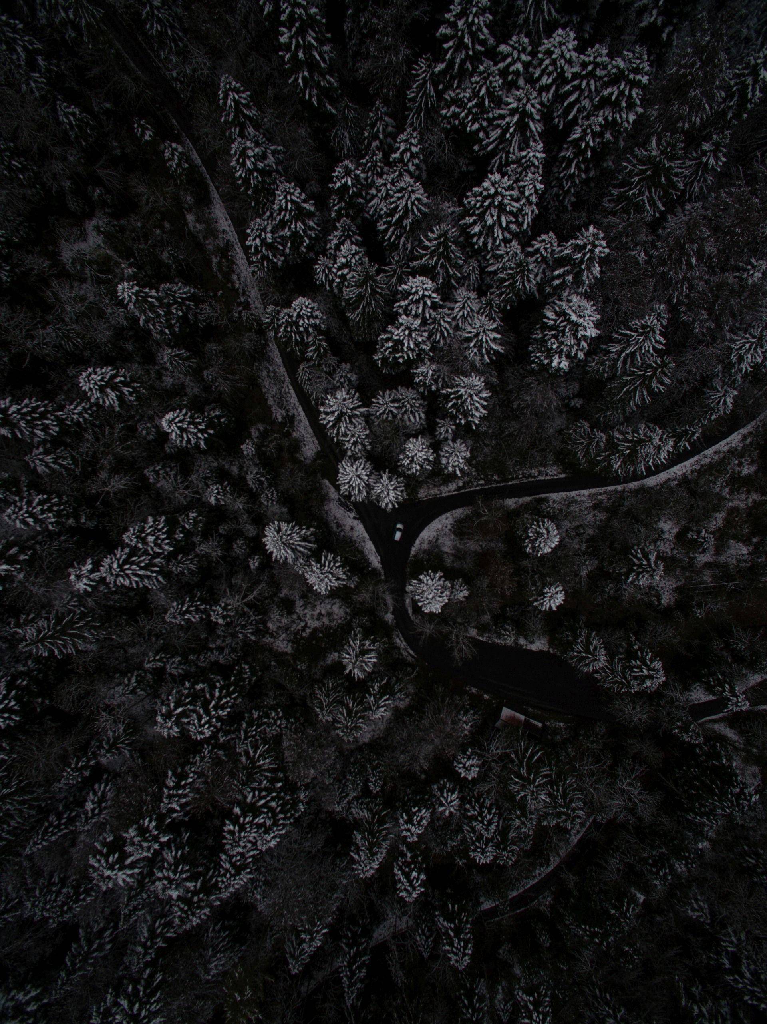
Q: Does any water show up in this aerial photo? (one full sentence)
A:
No, there is no water in the image.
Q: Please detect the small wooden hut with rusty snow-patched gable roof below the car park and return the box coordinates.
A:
[495,706,541,743]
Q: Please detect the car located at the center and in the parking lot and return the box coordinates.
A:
[393,522,405,542]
